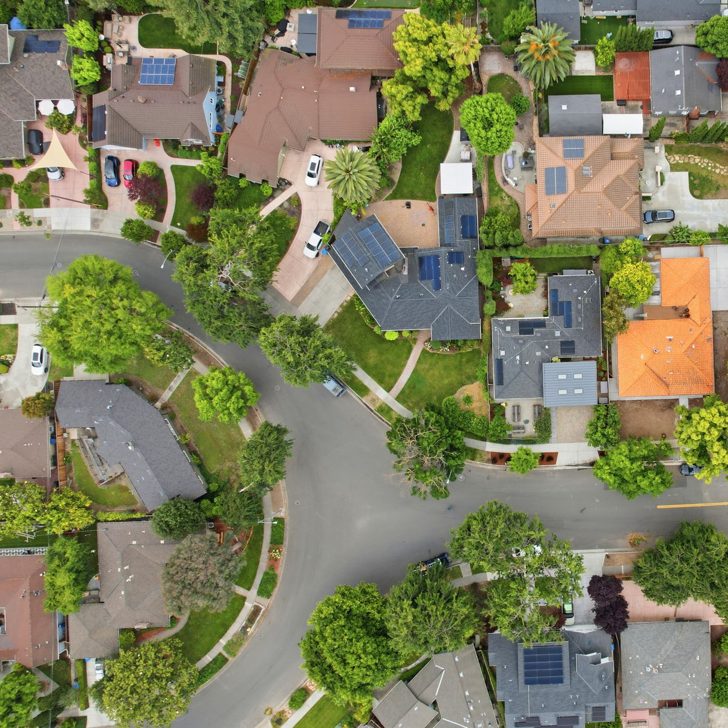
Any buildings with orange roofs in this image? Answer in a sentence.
Yes, there's a building with an orange roof down there.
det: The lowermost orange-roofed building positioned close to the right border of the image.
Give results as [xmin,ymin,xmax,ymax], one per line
[616,257,715,398]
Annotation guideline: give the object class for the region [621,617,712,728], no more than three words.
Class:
house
